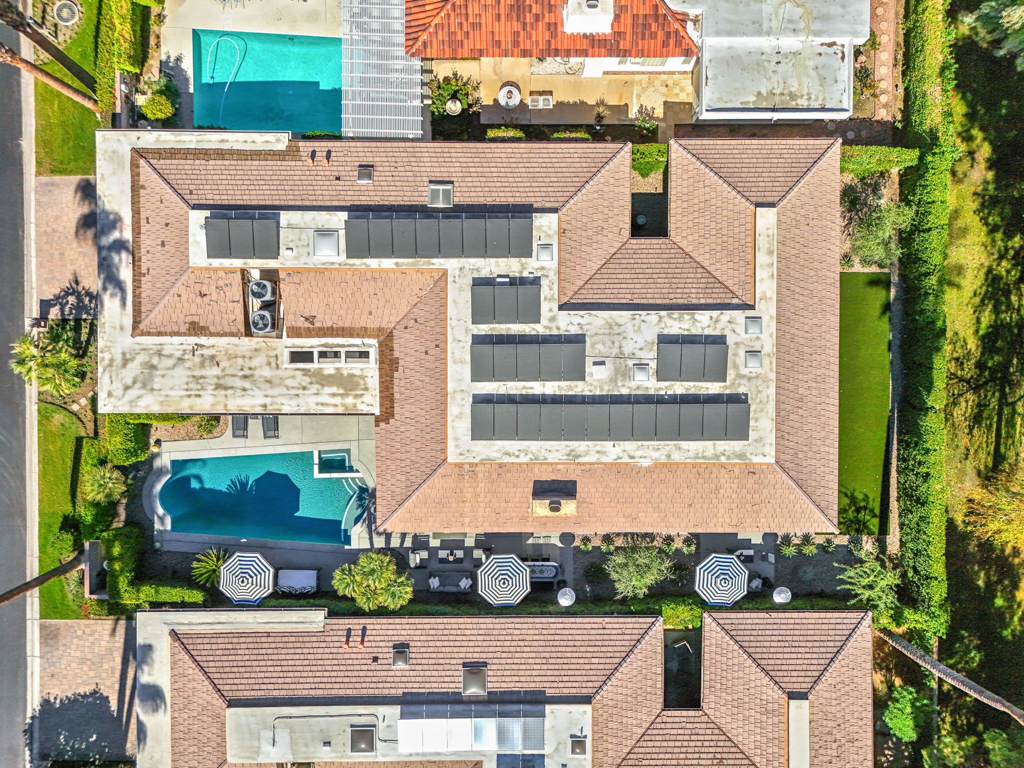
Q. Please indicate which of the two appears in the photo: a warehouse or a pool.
pool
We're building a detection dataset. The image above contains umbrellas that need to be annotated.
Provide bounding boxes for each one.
[223,550,275,602]
[479,552,529,603]
[693,551,745,604]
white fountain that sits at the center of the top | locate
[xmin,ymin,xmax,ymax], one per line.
[498,83,520,107]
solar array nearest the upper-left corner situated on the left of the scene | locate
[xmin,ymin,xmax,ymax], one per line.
[204,219,280,259]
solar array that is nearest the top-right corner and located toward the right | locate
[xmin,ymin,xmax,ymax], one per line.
[656,344,729,382]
